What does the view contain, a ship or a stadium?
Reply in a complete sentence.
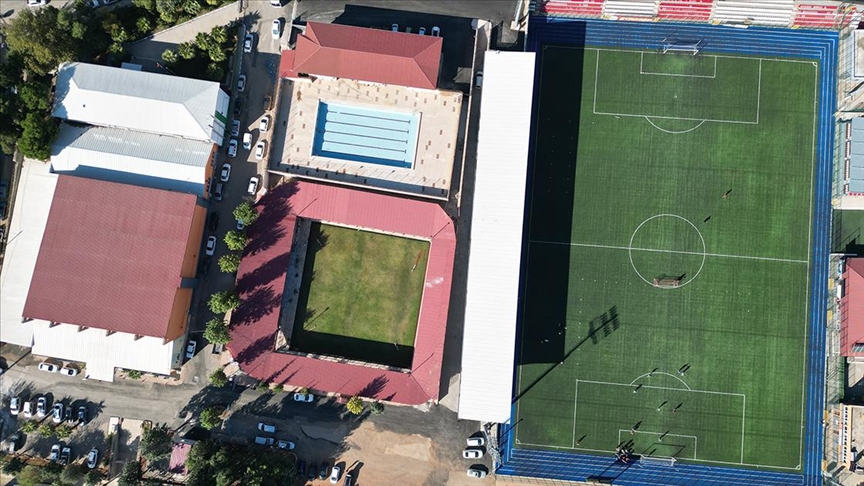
Visible in the photo is a stadium.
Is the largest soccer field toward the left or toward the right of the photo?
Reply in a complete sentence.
The largest soccer field appears in the right half of the scene.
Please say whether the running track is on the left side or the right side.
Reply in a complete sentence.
It is on the right.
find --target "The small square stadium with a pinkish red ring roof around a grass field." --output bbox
[227,179,456,404]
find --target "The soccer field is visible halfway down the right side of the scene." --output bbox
[511,43,821,474]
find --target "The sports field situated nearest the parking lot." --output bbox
[284,221,430,368]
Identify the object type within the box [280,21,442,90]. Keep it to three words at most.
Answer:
building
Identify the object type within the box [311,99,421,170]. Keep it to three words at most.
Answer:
swimming pool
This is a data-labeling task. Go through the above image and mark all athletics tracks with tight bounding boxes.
[496,18,839,486]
